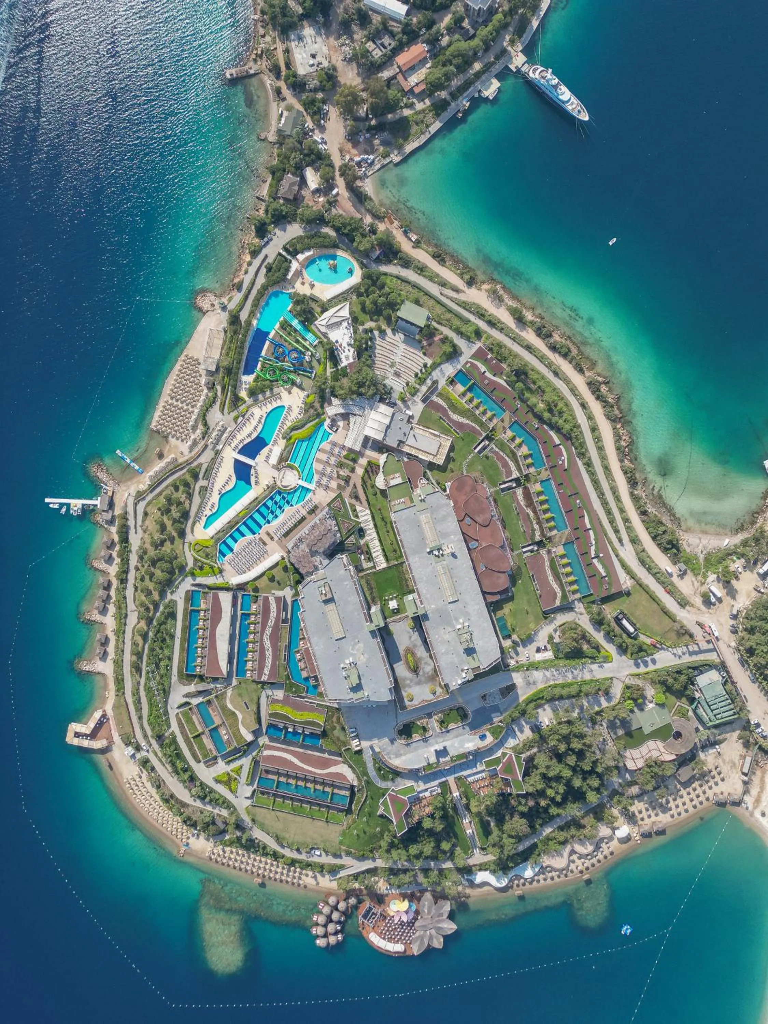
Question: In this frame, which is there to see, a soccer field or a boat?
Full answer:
Of the two, only a boat appears.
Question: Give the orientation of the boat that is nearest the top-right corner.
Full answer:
From this overhead view, the boat that is nearest the top-right corner appears to run at an angle.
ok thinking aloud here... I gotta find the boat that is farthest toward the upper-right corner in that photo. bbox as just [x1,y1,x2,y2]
[511,65,589,123]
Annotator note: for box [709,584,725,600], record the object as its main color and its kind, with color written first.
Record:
white vehicle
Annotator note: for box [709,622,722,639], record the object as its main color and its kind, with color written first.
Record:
white vehicle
